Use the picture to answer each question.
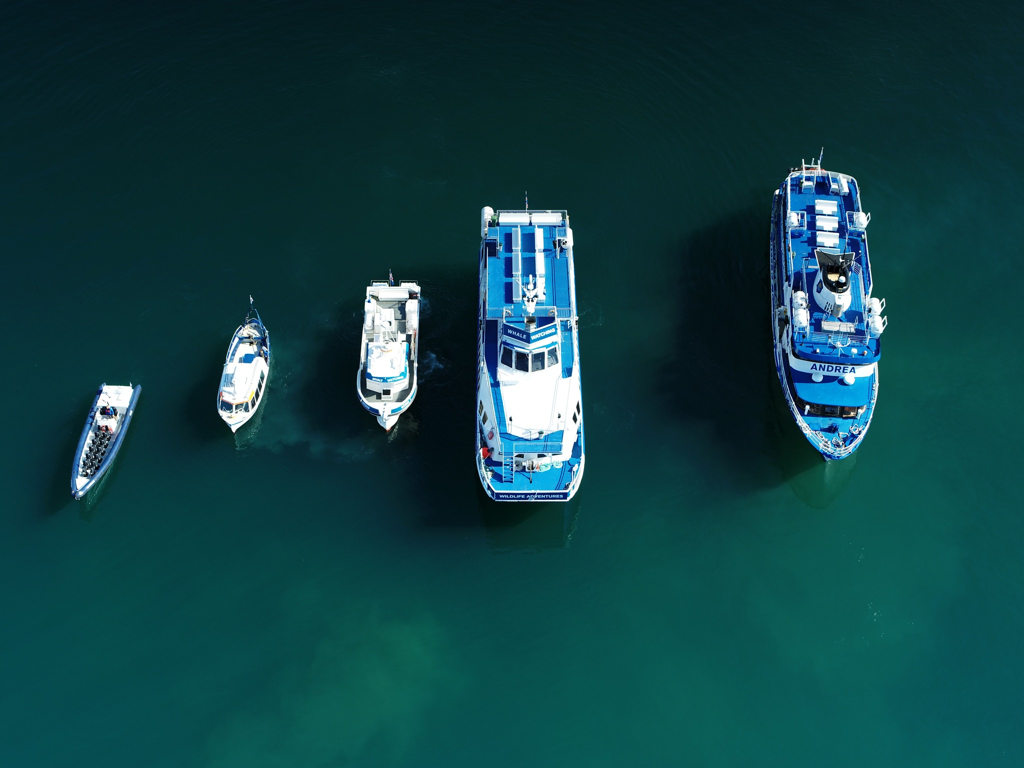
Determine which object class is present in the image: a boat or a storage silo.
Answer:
boat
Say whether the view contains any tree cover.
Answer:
No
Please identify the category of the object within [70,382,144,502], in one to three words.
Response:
boat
